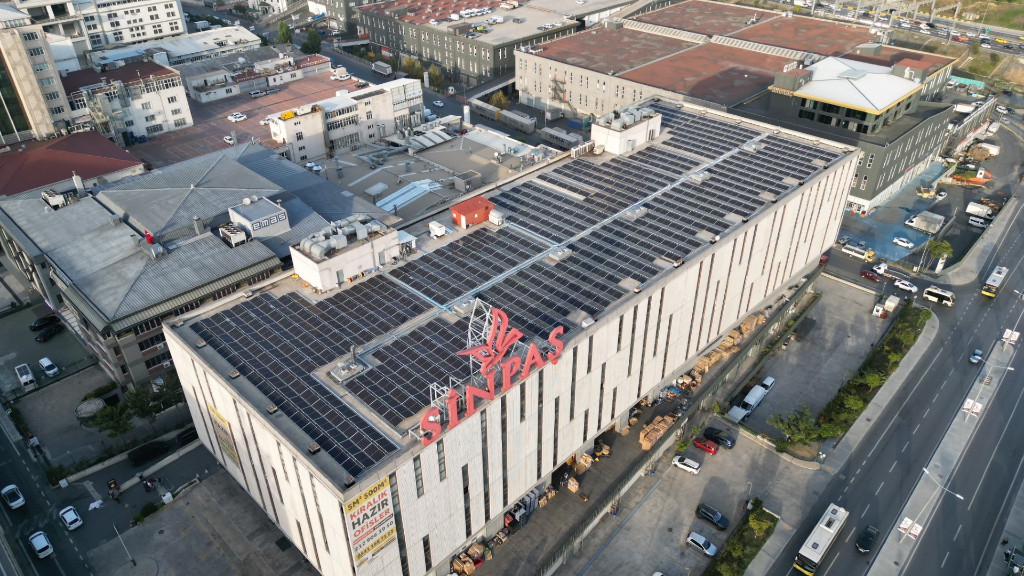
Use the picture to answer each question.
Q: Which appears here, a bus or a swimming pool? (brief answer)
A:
bus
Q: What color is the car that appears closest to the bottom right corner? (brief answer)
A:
black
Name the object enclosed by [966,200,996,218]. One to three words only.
vehicle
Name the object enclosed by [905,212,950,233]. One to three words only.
truck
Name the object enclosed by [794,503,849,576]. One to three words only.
bus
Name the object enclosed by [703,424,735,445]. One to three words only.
car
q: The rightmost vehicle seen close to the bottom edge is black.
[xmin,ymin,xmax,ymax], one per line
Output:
[856,521,885,552]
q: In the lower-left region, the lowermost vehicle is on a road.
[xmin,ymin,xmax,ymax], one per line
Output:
[26,528,54,559]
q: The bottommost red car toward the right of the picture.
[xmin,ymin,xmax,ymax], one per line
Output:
[693,437,718,454]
